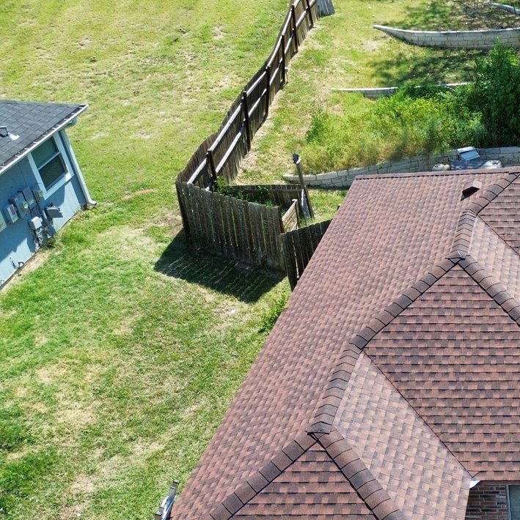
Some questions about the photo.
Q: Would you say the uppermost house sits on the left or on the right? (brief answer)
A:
left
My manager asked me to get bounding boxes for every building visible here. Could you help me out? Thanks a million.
[165,172,520,520]
[0,103,99,287]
